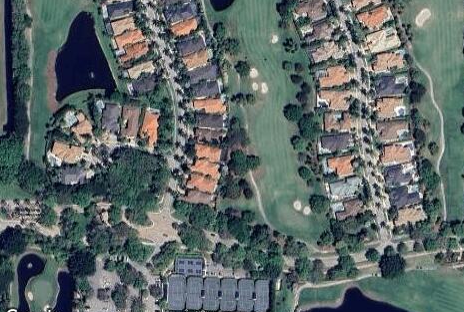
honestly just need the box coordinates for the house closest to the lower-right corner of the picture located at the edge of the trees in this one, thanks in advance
[394,204,430,226]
